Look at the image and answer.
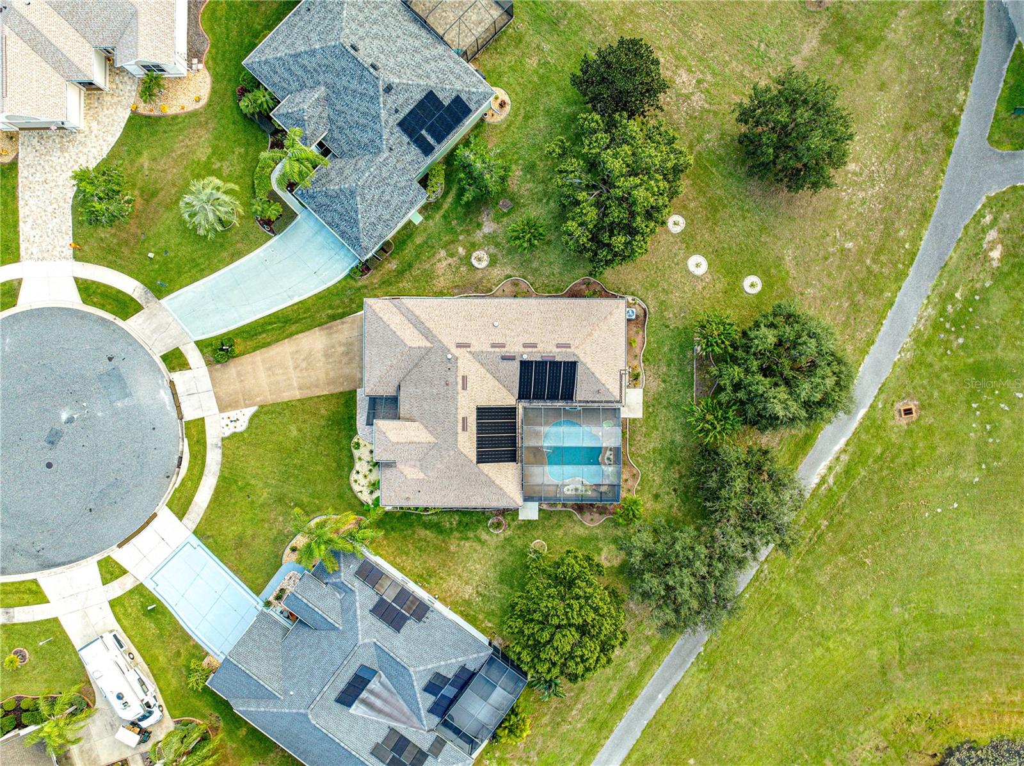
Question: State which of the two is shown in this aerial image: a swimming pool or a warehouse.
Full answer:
This aerial view contains a swimming pool.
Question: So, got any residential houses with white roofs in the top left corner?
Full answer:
Yes, you'll find a residential house with a white roof in the top left corner.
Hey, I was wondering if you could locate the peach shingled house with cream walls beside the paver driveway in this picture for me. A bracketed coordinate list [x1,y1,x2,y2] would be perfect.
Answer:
[0,0,185,128]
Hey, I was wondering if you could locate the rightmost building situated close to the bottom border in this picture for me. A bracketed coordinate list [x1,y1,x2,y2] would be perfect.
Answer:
[206,537,493,766]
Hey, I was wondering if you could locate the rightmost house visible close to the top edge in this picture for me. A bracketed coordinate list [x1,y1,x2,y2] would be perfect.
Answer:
[242,0,497,260]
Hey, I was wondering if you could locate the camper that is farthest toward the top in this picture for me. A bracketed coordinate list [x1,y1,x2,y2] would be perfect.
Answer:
[78,628,166,725]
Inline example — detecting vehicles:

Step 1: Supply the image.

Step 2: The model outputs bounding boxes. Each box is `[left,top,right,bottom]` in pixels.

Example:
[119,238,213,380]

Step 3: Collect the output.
[78,628,166,725]
[117,718,152,747]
